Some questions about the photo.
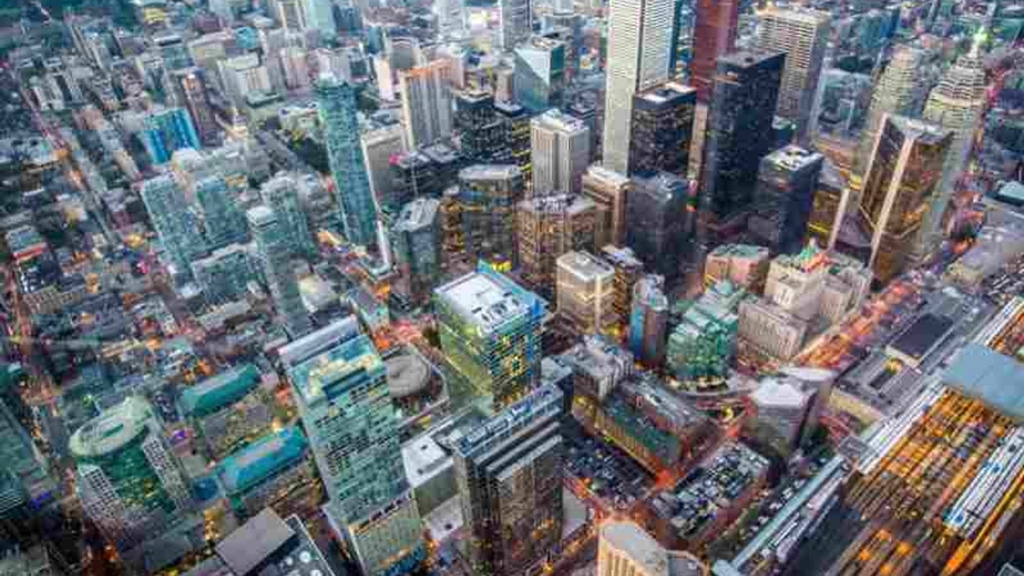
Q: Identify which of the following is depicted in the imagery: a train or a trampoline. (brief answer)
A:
train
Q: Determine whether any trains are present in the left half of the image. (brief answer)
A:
No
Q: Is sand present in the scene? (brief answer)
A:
No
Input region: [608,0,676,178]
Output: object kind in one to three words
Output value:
building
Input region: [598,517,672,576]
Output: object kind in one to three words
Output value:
building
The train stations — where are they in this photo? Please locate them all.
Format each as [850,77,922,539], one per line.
[817,231,1024,433]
